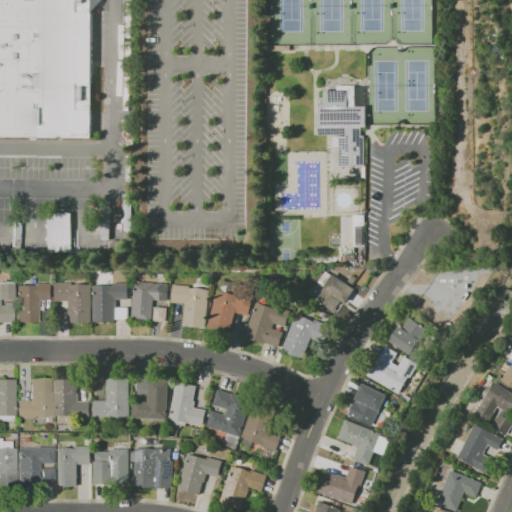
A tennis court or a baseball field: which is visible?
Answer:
tennis court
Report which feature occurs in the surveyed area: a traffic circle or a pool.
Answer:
pool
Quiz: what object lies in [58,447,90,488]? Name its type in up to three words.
house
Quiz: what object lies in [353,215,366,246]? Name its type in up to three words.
building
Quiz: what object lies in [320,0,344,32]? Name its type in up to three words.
tennis court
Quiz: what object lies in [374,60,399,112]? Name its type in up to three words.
tennis court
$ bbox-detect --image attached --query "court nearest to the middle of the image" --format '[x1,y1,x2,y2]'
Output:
[270,219,300,262]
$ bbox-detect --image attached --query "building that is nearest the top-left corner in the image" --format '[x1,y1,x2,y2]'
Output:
[0,0,104,140]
